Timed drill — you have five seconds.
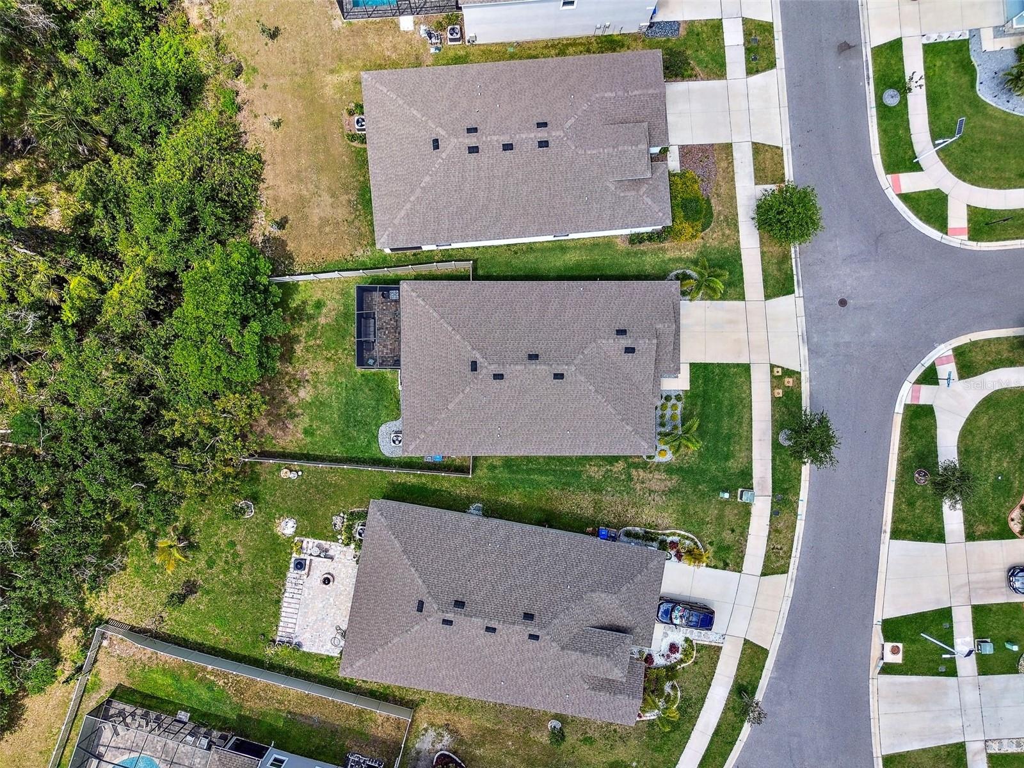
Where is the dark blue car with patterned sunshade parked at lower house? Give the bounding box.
[656,595,714,627]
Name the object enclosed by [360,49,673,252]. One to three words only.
house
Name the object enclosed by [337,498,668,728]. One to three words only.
house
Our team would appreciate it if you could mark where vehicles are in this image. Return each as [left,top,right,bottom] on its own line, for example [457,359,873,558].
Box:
[656,595,714,627]
[1005,568,1024,593]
